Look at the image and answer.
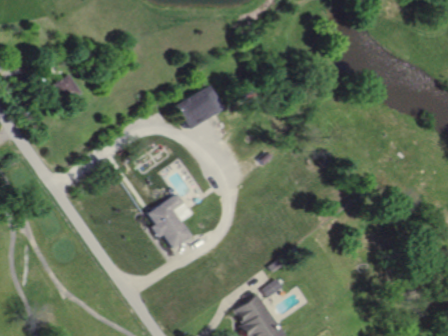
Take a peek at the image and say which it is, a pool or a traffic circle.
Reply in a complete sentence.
Of the two, only a pool appears.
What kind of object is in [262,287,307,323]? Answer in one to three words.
swimming pool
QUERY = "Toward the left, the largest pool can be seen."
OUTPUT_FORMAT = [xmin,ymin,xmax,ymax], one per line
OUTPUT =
[158,160,200,206]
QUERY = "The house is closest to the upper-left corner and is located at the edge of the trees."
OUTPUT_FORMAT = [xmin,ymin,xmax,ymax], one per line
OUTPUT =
[53,74,83,105]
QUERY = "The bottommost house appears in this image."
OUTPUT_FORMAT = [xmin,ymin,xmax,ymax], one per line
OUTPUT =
[232,295,285,336]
